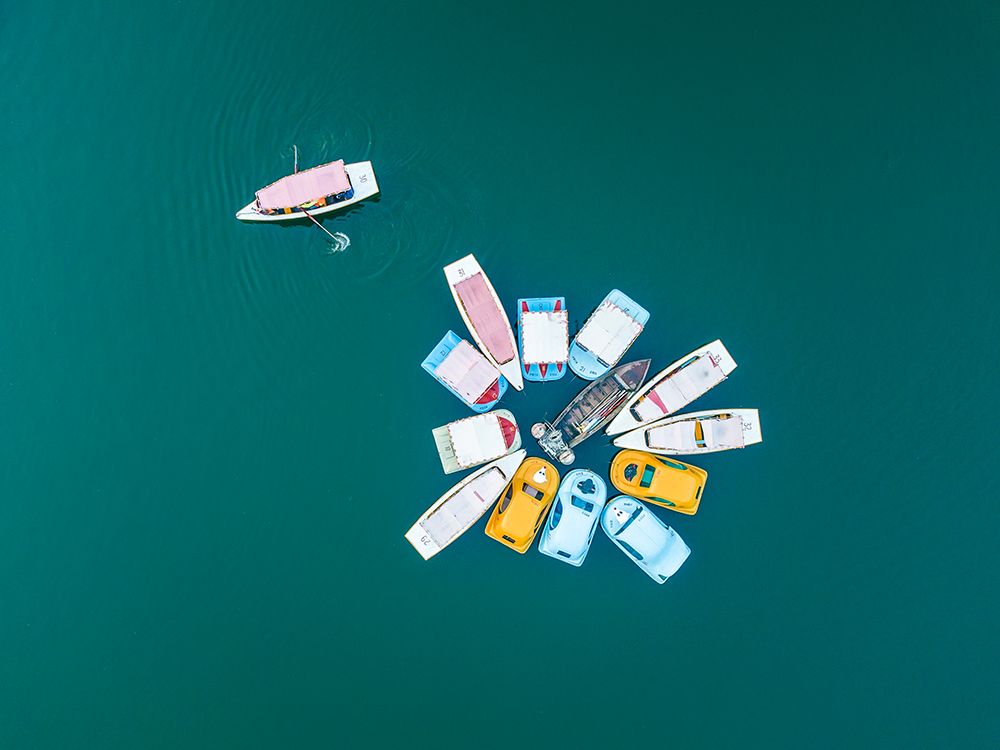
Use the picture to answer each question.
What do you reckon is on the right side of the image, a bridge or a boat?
boat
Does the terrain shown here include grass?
No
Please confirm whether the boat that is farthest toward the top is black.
No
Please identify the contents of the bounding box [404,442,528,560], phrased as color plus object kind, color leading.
white boat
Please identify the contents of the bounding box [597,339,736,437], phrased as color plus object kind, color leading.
white boat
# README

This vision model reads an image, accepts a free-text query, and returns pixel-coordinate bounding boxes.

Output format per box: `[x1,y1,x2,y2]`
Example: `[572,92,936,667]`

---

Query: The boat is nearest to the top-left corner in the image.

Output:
[235,159,380,220]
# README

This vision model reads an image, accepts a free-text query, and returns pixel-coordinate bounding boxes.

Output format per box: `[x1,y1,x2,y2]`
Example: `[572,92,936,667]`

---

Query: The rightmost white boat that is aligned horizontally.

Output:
[602,408,762,454]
